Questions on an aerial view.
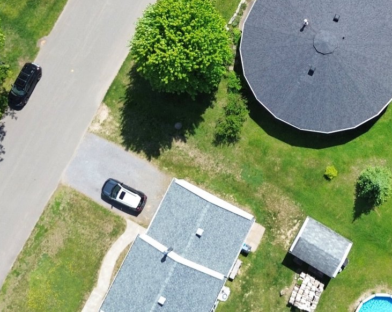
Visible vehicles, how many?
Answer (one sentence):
The picture shows 2 vehicles.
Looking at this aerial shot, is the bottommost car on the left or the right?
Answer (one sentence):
It is on the left.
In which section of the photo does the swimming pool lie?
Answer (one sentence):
The swimming pool appears toward the bottom right of the photo.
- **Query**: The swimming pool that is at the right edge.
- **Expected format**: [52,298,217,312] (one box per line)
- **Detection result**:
[354,290,392,312]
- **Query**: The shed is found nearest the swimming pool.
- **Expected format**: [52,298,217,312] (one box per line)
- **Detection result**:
[288,215,353,279]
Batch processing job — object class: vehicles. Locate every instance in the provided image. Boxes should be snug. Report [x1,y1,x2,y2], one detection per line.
[100,181,150,213]
[11,59,45,112]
